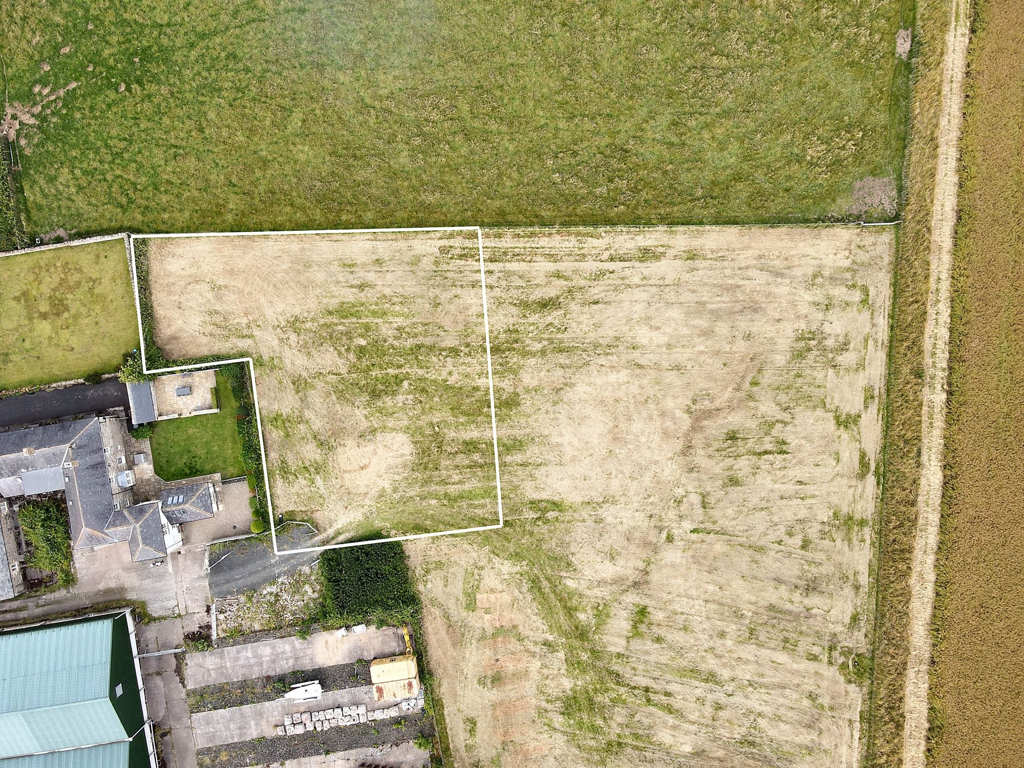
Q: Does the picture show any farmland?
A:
Yes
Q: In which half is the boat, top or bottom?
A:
bottom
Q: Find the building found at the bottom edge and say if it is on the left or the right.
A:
left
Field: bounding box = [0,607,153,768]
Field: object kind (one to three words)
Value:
building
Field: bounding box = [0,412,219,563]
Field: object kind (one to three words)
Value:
house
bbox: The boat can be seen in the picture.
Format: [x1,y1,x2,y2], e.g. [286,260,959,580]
[275,680,325,703]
